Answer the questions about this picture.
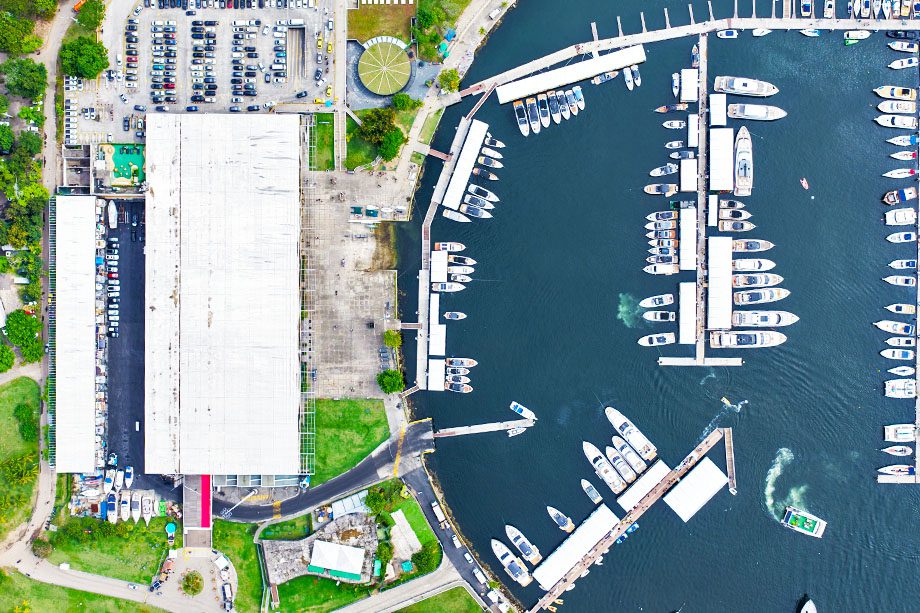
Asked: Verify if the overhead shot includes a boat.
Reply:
Yes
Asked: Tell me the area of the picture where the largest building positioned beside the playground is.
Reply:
left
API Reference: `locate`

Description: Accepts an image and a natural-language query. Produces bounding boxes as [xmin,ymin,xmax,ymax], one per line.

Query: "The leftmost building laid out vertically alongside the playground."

[49,196,106,474]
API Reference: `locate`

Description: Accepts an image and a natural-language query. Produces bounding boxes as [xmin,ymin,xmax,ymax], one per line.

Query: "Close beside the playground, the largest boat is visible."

[106,200,119,230]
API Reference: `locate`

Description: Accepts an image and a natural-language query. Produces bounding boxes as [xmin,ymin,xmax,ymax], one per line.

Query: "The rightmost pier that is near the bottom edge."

[531,428,723,613]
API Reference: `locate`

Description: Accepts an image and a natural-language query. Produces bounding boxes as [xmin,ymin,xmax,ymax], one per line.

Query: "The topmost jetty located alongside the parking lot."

[470,18,920,93]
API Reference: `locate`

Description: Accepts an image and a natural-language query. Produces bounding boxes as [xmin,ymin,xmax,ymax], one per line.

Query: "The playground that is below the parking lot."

[92,142,145,198]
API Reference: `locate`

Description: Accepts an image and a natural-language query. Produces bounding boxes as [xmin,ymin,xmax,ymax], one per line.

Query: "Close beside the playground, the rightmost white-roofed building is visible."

[145,112,305,475]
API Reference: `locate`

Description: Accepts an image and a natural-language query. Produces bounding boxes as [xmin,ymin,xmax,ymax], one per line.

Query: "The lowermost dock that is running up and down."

[723,428,736,488]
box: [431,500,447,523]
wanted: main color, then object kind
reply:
white vehicle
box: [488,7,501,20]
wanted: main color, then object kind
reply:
white vehicle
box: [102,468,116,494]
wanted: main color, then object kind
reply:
white boat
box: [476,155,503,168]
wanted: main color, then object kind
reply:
white boat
